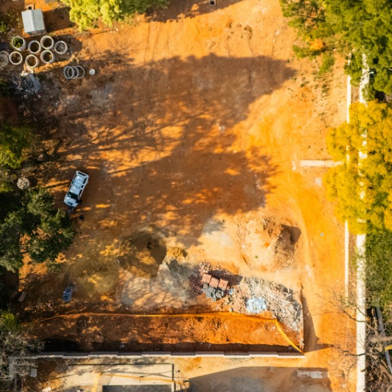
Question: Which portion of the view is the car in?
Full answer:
The car sits in the left section of the image.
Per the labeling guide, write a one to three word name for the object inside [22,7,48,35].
shed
